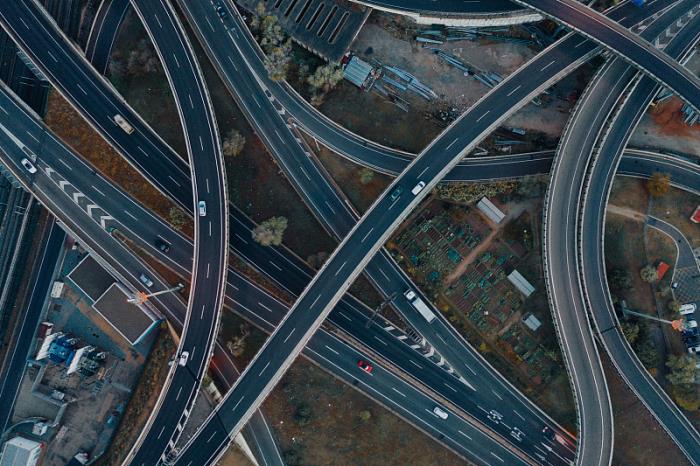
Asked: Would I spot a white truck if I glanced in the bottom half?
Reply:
Yes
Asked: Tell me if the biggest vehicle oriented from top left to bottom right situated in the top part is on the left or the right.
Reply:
left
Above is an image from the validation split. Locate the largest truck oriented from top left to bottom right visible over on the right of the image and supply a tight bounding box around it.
[405,289,438,323]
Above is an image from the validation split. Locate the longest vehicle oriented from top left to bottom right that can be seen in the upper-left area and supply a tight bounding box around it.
[110,113,133,133]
